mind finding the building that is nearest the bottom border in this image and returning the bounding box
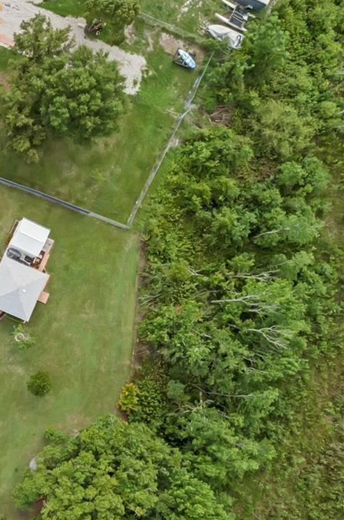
[0,255,48,322]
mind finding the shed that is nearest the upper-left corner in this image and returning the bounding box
[8,217,51,257]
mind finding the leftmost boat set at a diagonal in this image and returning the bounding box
[178,48,195,66]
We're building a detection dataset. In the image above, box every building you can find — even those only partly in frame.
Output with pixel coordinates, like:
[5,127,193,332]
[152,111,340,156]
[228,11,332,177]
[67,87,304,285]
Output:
[8,217,51,257]
[0,255,48,322]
